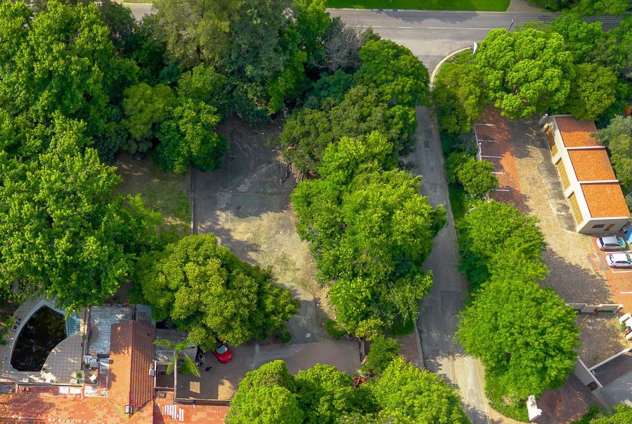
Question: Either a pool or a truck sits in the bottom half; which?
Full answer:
The one visible in the bottom half is a pool.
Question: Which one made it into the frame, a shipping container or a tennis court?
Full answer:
It is a tennis court that can be seen here.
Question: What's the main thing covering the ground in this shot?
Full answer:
The bulk of the photo consists of trees.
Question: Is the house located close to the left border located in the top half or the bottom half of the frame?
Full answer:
It is in the bottom half that the house located close to the left border appears.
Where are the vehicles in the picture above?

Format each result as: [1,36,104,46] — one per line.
[591,233,628,252]
[601,251,632,269]
[209,340,238,369]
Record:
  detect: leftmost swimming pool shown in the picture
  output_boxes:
[9,302,68,372]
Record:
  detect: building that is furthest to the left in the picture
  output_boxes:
[0,303,229,424]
